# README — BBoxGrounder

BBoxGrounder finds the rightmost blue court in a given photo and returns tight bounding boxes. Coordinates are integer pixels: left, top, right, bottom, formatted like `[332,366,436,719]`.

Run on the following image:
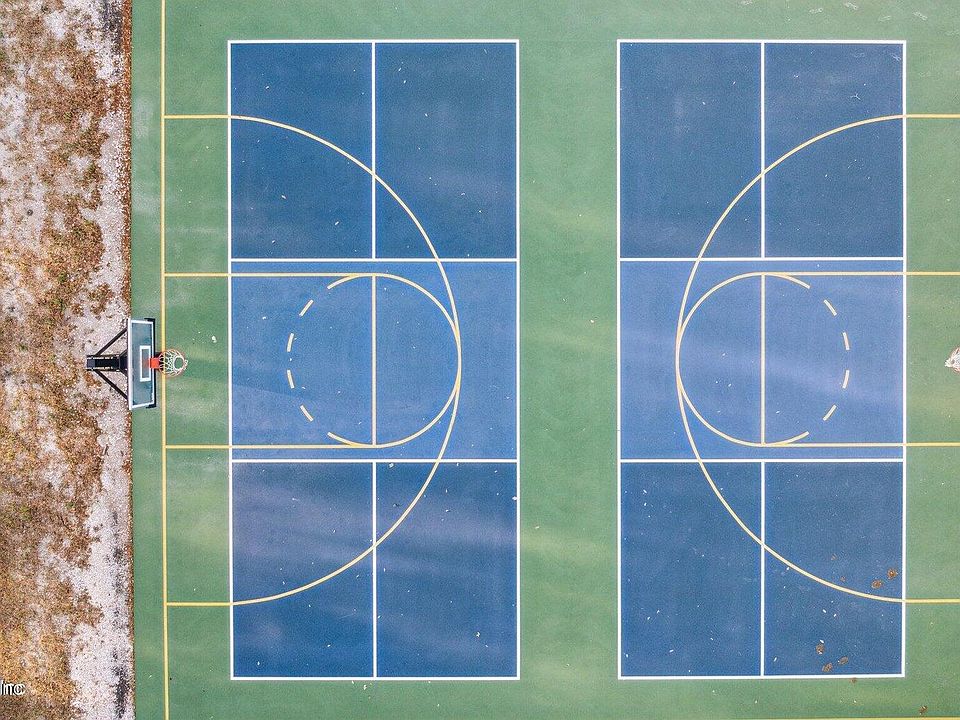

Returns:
[617,39,907,679]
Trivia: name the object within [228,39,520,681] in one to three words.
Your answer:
sports court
